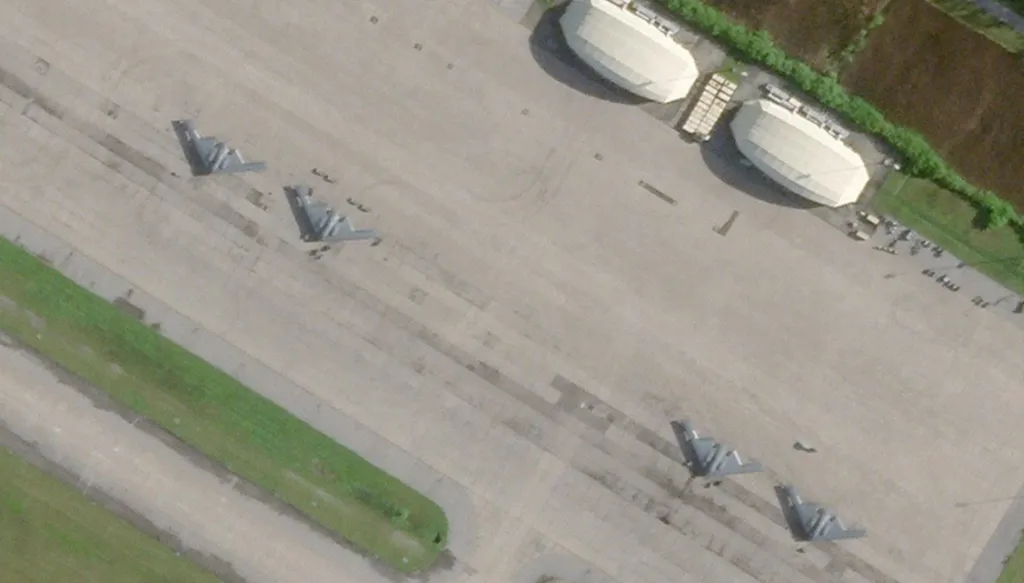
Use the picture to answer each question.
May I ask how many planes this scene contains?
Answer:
4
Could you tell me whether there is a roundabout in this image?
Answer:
No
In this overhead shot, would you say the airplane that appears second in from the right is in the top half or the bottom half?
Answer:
bottom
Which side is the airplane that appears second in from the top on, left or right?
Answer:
left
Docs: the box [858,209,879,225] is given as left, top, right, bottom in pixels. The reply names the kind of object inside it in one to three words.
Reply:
vehicle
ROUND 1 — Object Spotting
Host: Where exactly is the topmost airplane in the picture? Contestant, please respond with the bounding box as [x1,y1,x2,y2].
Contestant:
[180,119,267,173]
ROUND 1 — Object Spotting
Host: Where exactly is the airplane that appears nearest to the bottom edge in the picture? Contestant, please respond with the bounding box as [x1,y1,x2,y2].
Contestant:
[783,485,867,539]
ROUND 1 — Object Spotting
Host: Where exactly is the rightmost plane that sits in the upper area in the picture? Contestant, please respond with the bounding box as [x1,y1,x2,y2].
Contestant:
[293,185,377,239]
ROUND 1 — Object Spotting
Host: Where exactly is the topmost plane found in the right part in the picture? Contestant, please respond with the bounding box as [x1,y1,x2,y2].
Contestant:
[681,420,764,474]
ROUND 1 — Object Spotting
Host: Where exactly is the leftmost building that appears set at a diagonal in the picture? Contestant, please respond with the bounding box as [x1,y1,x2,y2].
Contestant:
[559,0,698,104]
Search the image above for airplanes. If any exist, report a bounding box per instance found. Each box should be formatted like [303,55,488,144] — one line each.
[293,185,377,239]
[681,420,764,474]
[783,485,867,539]
[180,119,267,173]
